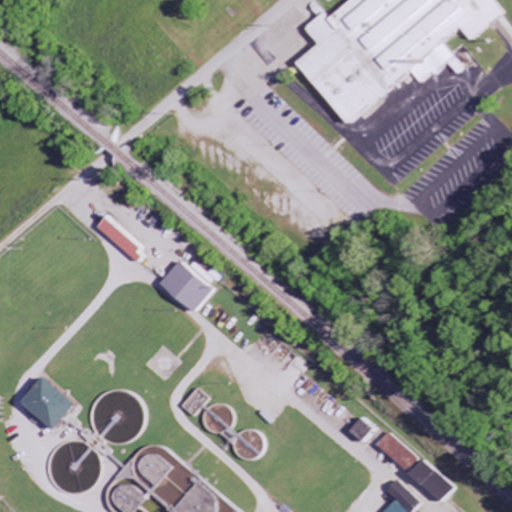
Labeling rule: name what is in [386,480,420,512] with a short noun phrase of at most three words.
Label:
shed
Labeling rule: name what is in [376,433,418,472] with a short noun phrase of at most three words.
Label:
building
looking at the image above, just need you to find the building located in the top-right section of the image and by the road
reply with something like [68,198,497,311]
[295,0,506,124]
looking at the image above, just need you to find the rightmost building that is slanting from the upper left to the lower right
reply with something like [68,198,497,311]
[406,462,452,502]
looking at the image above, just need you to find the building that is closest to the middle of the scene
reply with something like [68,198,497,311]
[161,264,214,310]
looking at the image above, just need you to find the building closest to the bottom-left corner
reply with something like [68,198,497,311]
[20,378,75,428]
